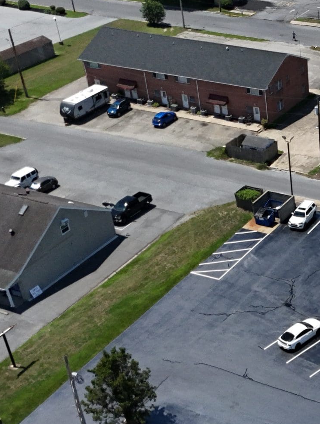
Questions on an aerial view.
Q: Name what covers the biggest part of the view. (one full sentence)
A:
The largest share of the image is taken up by paved ground.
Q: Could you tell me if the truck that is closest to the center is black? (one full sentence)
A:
Yes, the truck that is closest to the center appears black.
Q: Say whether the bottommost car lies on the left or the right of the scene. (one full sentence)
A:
The bottommost car appears in the right half of the scene.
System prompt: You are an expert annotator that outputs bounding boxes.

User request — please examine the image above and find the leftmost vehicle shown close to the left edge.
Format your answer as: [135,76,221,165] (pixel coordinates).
[1,161,45,188]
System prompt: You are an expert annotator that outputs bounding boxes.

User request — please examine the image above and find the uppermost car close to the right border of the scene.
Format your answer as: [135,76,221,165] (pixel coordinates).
[284,198,319,230]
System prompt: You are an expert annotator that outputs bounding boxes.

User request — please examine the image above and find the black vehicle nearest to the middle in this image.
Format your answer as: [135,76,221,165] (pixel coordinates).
[108,192,158,225]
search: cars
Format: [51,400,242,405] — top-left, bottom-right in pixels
[270,319,320,354]
[29,173,67,195]
[284,198,319,230]
[1,161,45,188]
[150,112,179,129]
[105,98,135,117]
